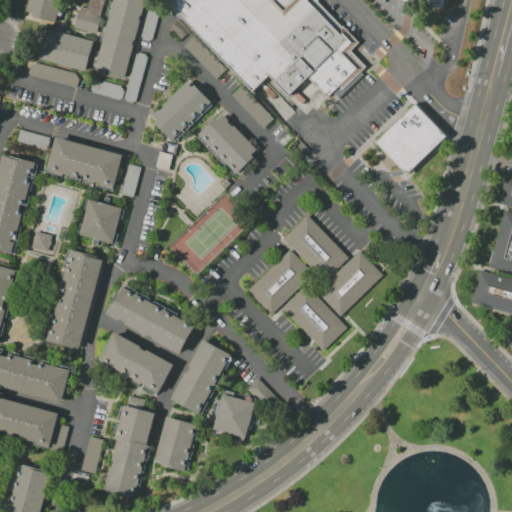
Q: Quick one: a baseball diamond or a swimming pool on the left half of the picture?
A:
swimming pool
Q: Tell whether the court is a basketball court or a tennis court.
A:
tennis court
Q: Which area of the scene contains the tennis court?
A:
center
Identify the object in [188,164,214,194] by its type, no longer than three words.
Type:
swimming pool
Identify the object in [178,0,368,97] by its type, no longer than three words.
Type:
building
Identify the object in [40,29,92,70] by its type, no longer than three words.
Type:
house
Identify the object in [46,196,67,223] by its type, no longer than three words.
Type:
swimming pool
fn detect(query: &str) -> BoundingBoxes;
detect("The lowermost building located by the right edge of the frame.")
[473,271,512,314]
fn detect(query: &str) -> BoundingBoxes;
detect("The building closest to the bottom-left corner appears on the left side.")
[9,465,46,512]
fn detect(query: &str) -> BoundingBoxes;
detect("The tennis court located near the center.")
[170,194,246,273]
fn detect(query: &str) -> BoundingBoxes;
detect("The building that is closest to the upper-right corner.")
[376,104,447,172]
